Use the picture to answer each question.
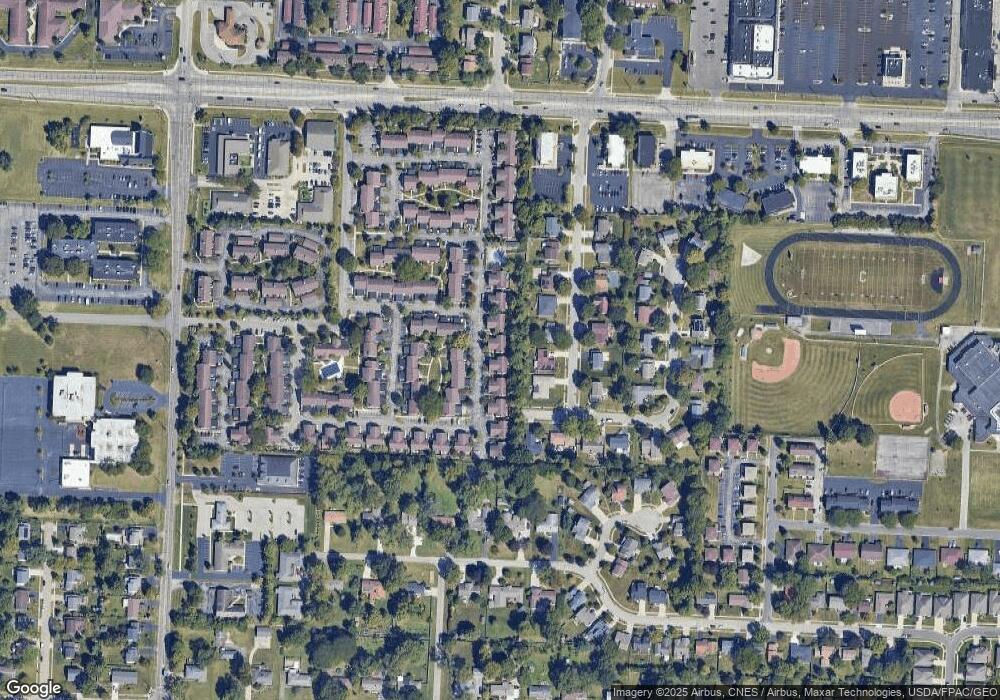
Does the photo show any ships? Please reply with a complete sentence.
No, the scene contains no ship.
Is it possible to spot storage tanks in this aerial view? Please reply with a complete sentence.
No, I can see no storage tank in this picture.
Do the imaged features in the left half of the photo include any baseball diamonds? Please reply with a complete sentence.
No, there's no baseball diamond to be seen in the left half of the photo.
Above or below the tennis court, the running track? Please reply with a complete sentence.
Looking at the photo, you'll find the running track above the tennis court.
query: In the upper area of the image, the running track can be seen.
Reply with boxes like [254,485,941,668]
[755,232,961,320]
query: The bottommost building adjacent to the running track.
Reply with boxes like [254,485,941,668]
[947,333,1000,442]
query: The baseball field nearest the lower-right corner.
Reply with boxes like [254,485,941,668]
[854,354,922,428]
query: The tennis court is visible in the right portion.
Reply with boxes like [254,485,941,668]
[876,435,928,480]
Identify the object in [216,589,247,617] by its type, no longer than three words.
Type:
building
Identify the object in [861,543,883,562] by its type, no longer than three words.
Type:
house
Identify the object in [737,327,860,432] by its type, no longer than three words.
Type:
baseball field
